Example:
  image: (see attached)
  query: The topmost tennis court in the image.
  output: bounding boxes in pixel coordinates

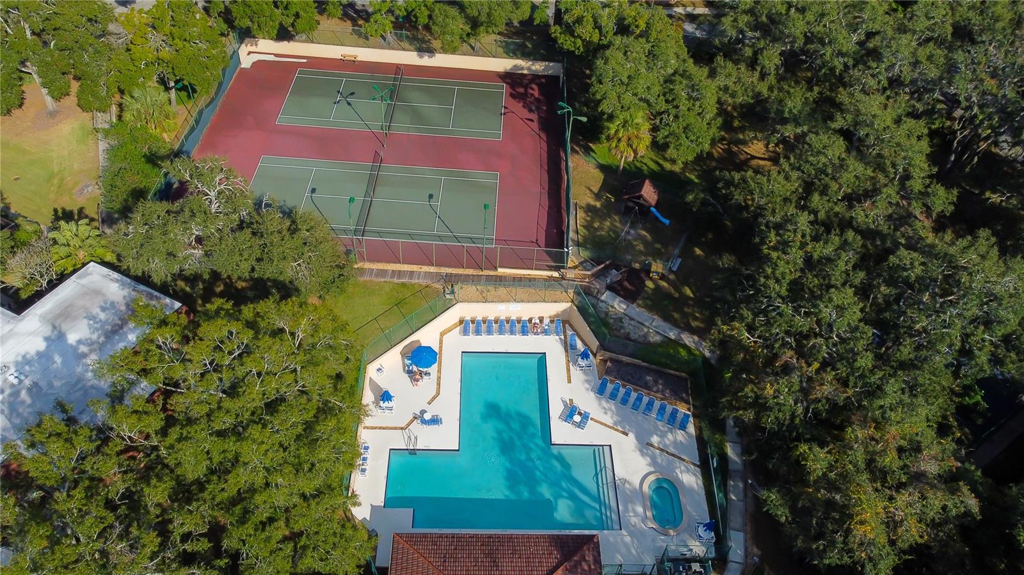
[276,69,505,139]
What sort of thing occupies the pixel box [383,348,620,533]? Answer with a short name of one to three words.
swimming pool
